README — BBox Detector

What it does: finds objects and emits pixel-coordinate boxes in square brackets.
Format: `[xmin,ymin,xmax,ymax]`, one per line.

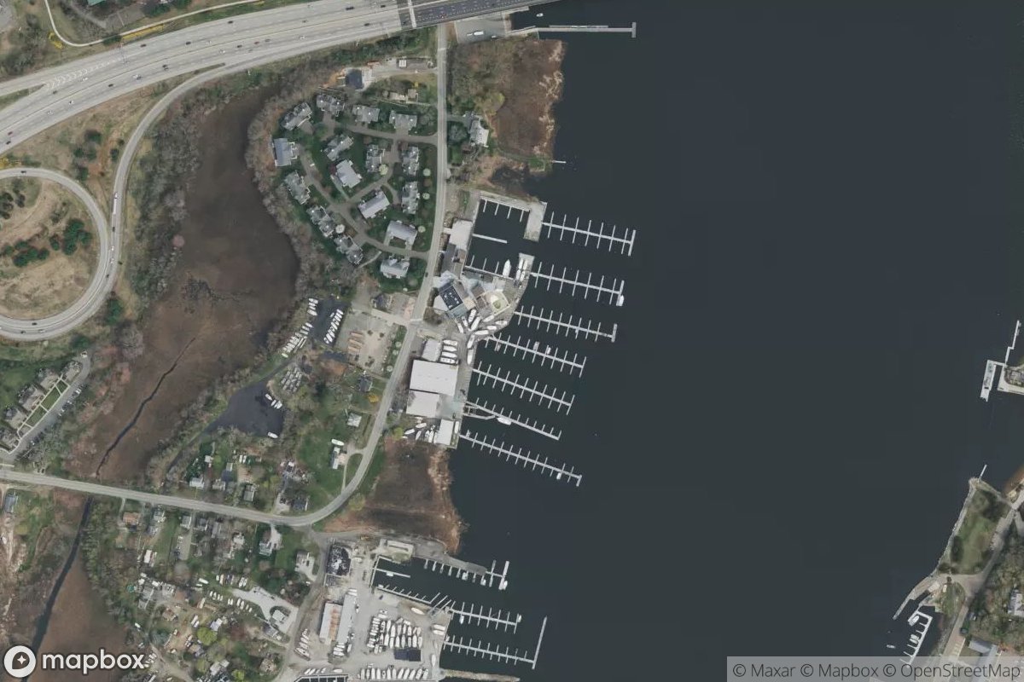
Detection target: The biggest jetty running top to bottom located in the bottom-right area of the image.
[900,604,933,666]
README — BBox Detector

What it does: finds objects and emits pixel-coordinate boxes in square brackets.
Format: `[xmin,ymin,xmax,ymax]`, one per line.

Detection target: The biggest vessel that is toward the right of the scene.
[981,360,1004,401]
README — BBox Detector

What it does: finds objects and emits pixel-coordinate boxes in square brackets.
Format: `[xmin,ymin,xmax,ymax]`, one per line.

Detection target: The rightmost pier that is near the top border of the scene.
[534,22,636,37]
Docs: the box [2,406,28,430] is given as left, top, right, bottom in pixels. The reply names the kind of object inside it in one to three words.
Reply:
house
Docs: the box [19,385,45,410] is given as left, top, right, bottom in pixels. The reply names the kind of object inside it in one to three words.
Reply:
house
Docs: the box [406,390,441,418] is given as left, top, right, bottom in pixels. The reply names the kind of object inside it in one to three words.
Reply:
shed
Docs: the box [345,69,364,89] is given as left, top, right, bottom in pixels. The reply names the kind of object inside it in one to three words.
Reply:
building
